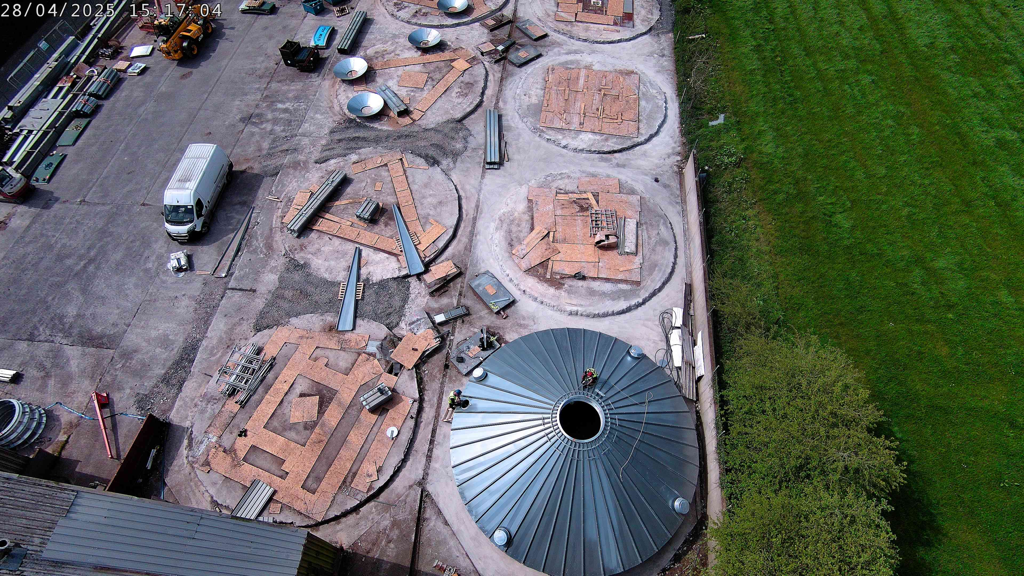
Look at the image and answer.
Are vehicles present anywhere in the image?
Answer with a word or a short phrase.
Yes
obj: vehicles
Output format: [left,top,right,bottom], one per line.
[0,161,33,203]
[164,142,235,243]
[146,5,216,60]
